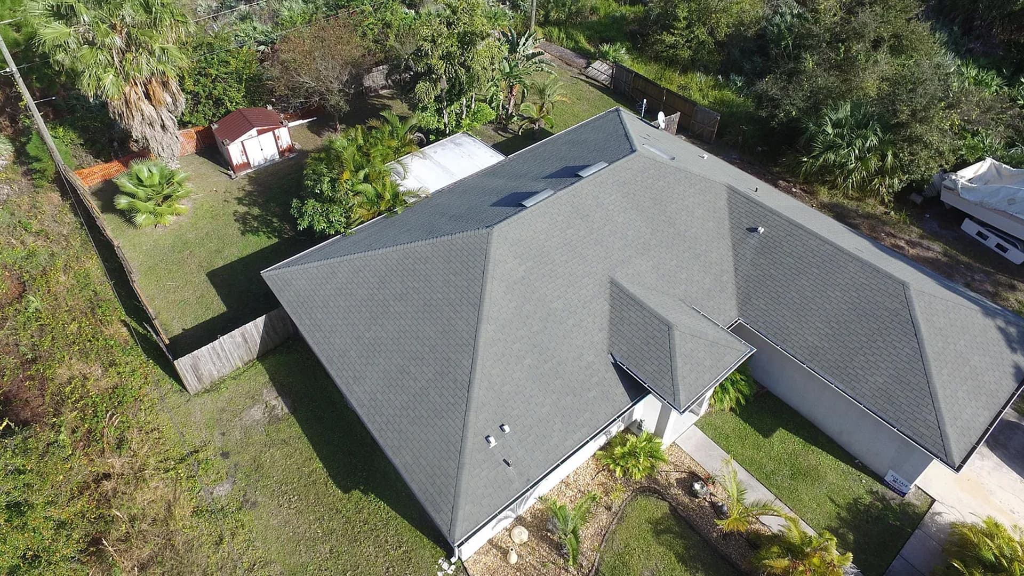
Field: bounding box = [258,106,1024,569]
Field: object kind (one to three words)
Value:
house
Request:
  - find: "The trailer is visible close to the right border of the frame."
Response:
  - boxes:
[941,196,1024,258]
